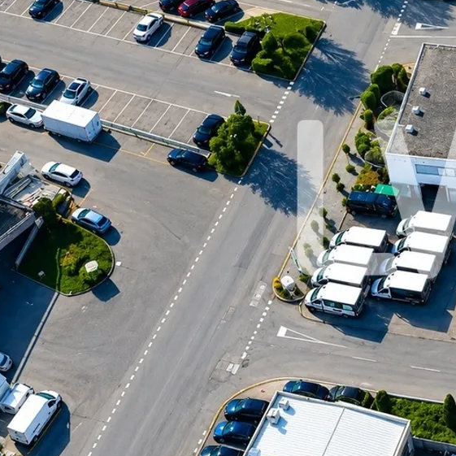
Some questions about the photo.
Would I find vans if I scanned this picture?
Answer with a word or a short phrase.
Yes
